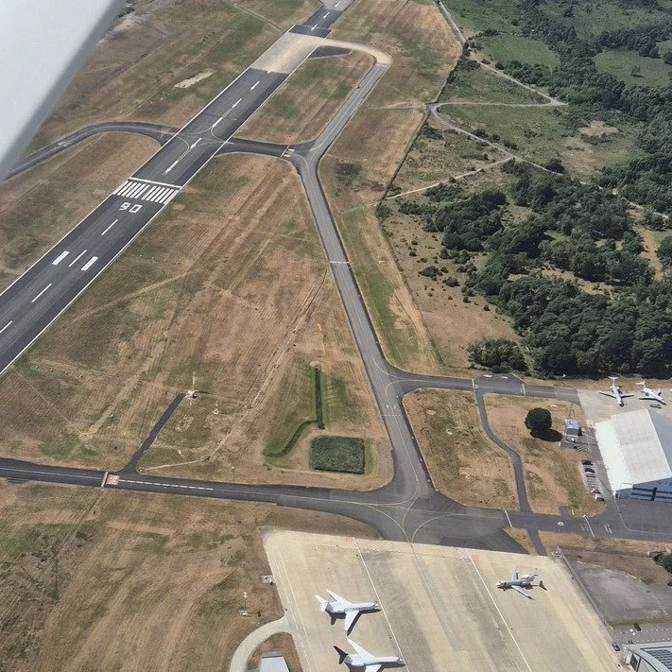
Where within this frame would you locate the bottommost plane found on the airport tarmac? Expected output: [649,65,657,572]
[337,635,405,672]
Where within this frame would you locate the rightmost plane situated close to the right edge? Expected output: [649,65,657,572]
[633,373,667,404]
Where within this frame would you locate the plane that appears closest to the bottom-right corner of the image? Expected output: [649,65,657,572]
[498,570,546,597]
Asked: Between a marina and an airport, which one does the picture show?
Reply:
airport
